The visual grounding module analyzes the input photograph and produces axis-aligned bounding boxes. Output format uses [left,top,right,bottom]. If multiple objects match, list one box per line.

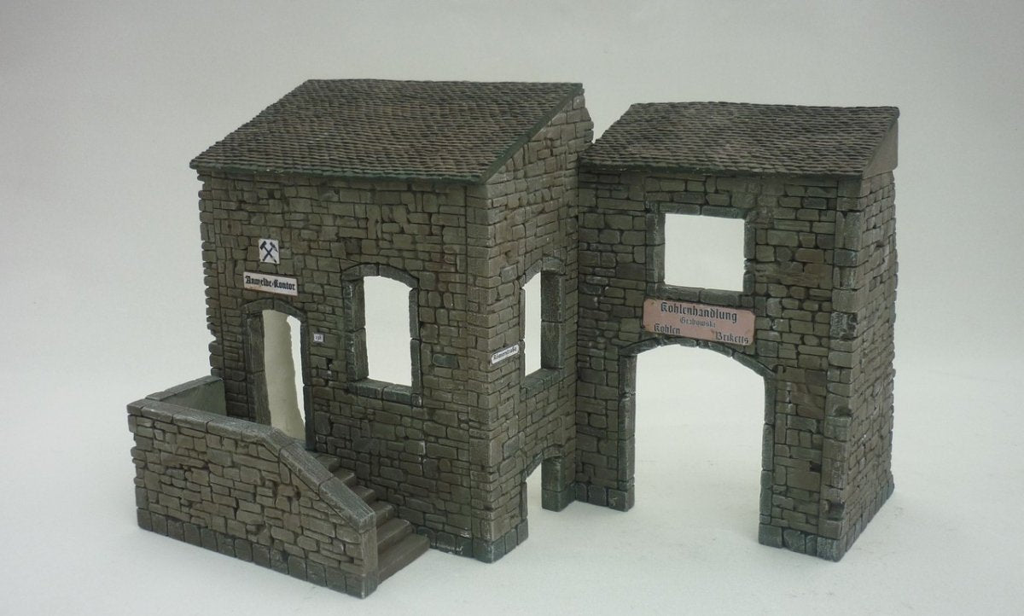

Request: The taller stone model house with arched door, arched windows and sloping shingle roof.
[189,79,594,562]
